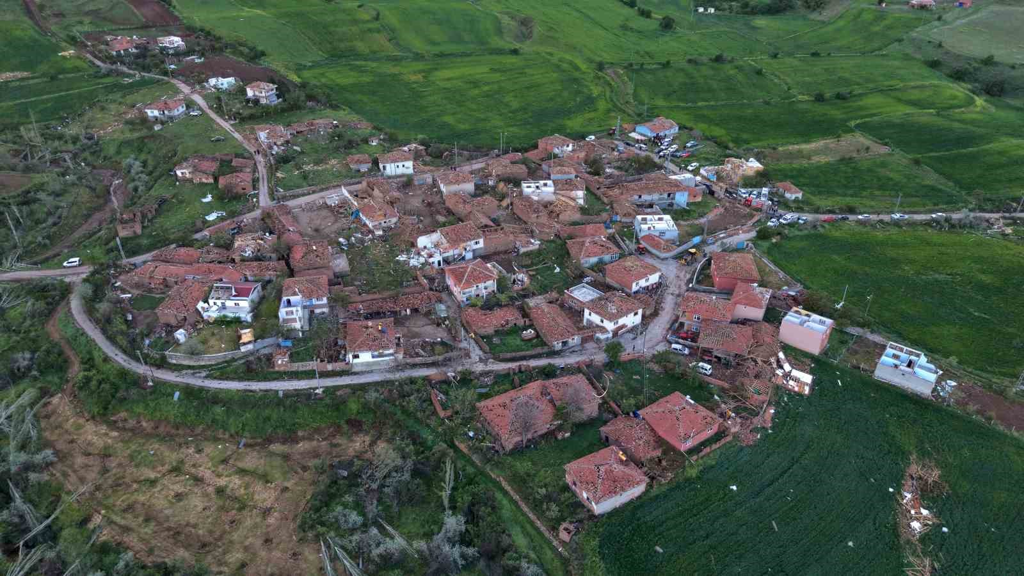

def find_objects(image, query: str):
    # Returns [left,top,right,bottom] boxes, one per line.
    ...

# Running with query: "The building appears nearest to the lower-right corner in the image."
[876,343,943,395]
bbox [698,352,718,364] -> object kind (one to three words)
vehicle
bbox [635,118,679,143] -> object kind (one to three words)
building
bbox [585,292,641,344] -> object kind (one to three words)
house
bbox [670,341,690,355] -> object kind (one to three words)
vehicle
